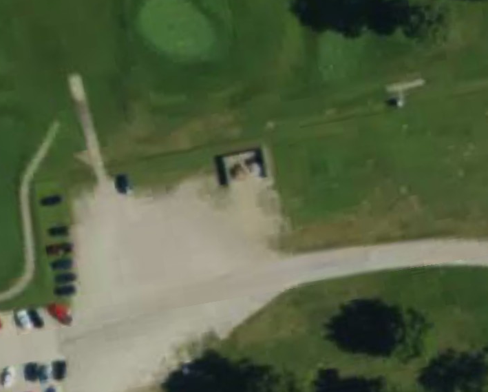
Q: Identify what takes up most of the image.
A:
grass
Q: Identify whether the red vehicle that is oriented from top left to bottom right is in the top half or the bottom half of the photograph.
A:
bottom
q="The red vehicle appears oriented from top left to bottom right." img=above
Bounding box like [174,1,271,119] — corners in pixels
[52,305,73,325]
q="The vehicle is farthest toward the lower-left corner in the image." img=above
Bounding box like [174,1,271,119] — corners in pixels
[2,365,16,386]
